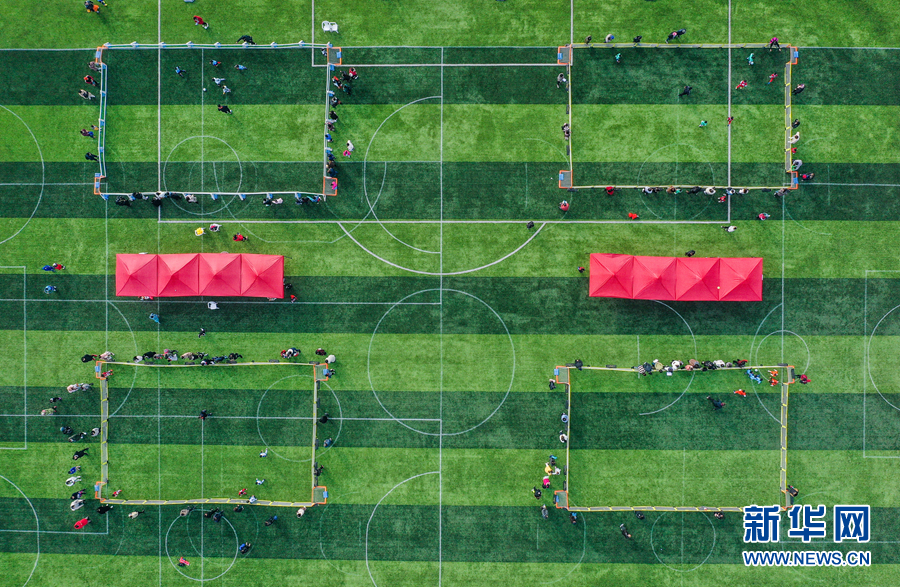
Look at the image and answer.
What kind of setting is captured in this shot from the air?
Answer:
sports ground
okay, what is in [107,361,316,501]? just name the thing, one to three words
soccer field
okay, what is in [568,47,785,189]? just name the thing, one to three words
soccer field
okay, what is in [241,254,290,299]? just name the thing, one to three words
tent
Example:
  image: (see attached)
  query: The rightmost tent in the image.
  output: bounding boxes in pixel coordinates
[719,257,763,301]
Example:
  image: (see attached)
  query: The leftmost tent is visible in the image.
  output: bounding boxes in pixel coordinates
[116,254,157,296]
